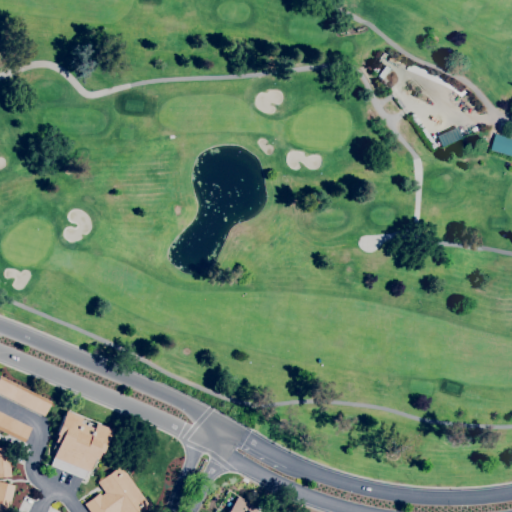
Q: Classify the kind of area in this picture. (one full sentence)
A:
It's a golf course.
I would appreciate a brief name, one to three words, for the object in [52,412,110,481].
house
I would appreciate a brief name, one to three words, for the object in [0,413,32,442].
building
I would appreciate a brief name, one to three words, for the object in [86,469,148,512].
house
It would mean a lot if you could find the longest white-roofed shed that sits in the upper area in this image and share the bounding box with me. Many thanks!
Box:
[408,64,466,95]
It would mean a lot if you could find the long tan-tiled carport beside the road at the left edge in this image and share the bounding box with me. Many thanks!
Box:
[0,376,54,417]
